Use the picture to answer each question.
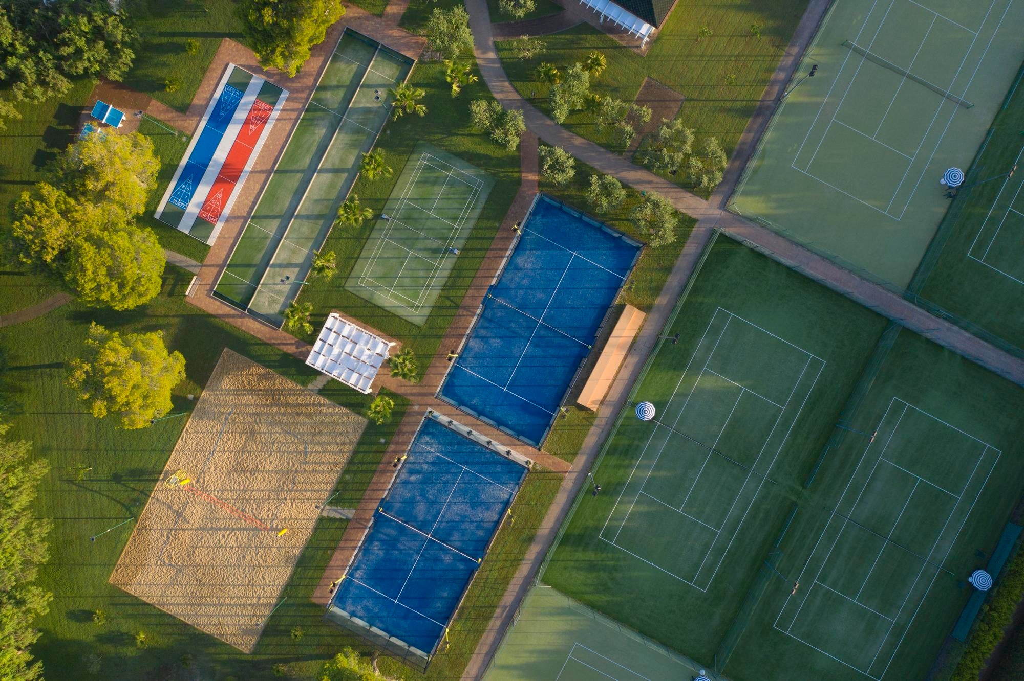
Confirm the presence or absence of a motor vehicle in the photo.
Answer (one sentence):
No, the photo shows no motor vehicle.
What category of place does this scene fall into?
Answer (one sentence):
This image shows a sports ground.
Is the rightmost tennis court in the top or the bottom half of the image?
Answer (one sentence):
You can find the rightmost tennis court in the top half.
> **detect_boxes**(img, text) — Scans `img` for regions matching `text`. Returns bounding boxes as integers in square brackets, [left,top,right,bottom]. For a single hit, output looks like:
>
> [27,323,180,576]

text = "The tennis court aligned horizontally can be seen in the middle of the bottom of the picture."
[484,585,731,681]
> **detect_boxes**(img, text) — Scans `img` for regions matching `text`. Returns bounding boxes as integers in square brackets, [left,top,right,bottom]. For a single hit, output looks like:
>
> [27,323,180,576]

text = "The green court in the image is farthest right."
[907,80,1024,354]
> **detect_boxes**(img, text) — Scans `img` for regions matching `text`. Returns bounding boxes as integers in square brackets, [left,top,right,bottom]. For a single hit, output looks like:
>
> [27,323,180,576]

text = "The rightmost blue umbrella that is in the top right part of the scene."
[937,167,963,188]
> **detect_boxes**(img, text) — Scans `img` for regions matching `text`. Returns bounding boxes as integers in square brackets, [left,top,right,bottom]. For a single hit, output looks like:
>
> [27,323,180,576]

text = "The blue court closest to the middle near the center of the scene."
[436,189,648,452]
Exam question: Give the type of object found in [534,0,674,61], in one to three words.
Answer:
building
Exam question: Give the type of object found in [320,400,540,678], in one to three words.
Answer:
sports court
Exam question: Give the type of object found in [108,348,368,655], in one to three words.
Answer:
sports court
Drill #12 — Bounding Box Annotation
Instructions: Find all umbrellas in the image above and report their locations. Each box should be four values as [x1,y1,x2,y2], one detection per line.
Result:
[693,669,712,681]
[937,167,963,188]
[635,401,655,421]
[962,569,989,590]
